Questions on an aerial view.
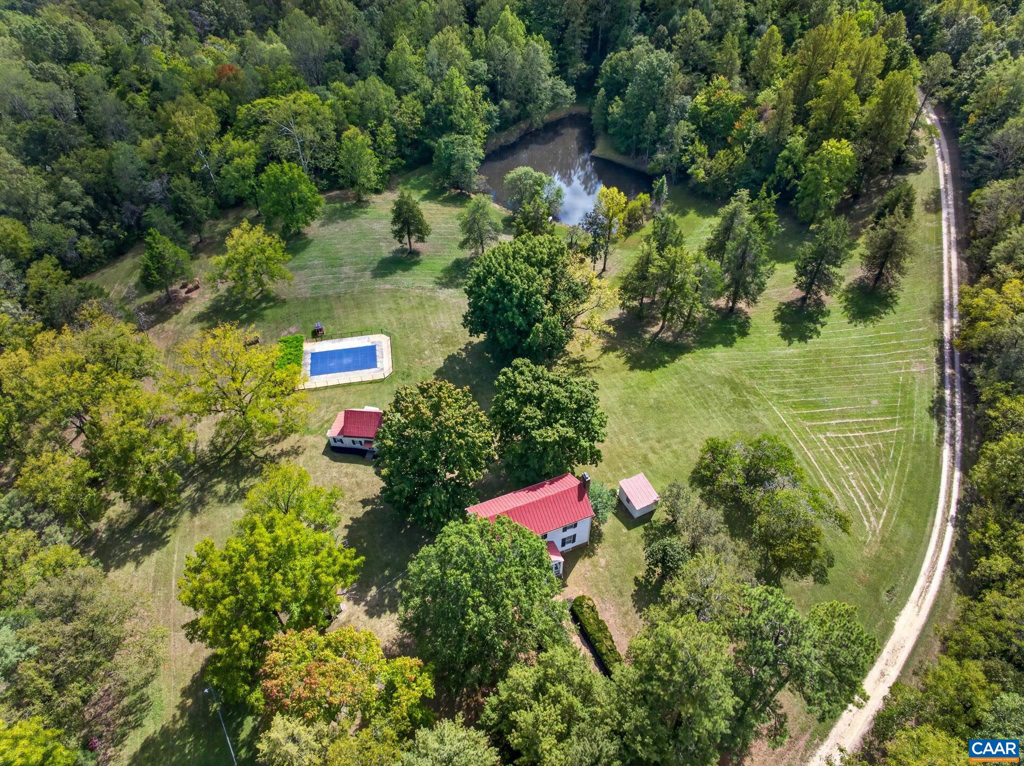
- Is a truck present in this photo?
No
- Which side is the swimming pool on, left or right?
left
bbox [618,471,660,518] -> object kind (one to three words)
shed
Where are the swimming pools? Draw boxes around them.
[296,334,393,390]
